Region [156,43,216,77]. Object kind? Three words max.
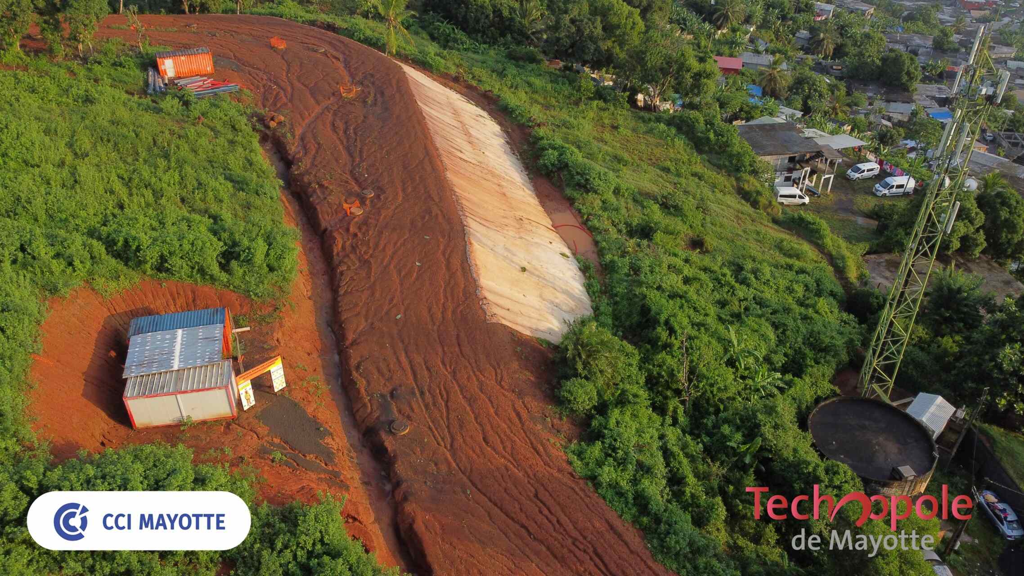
shipping container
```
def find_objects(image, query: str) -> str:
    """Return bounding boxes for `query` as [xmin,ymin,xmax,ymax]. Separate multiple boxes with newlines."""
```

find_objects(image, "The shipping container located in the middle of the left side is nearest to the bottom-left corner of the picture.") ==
[130,308,231,361]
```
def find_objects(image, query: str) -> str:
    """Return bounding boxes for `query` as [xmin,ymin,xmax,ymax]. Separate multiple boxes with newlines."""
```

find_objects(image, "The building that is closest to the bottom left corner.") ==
[126,361,238,429]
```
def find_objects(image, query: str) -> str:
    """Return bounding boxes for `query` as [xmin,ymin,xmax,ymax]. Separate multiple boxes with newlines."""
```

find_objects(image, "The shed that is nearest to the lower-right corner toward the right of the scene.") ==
[909,393,956,438]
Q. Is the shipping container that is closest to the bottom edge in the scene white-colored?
No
